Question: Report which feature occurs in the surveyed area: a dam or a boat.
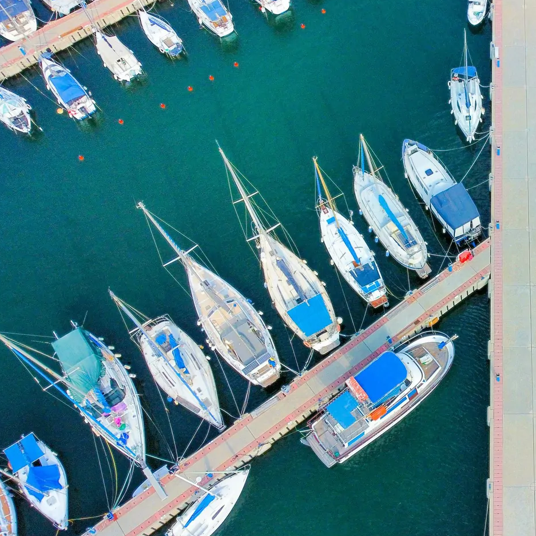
boat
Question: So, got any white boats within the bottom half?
Yes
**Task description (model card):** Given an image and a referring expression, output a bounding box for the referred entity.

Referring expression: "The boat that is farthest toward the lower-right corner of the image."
[300,335,458,469]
